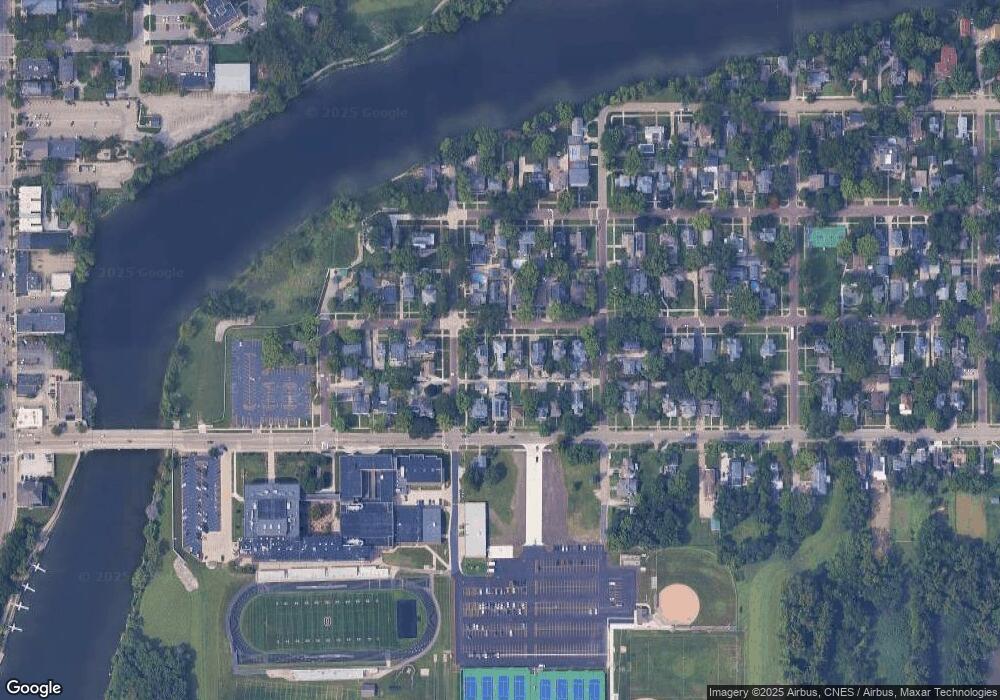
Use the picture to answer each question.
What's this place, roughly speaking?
residential area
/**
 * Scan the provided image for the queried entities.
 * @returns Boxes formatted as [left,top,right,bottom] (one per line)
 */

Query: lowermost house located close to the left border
[16,478,48,508]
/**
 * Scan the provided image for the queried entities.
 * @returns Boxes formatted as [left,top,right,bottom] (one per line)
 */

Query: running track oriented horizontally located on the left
[228,577,438,674]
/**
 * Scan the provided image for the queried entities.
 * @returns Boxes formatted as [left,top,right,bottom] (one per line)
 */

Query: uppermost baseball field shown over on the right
[650,548,737,628]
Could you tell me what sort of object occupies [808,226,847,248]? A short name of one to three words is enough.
sports court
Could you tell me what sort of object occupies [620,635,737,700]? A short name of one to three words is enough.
soccer field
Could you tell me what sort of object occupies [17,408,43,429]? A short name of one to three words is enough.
building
